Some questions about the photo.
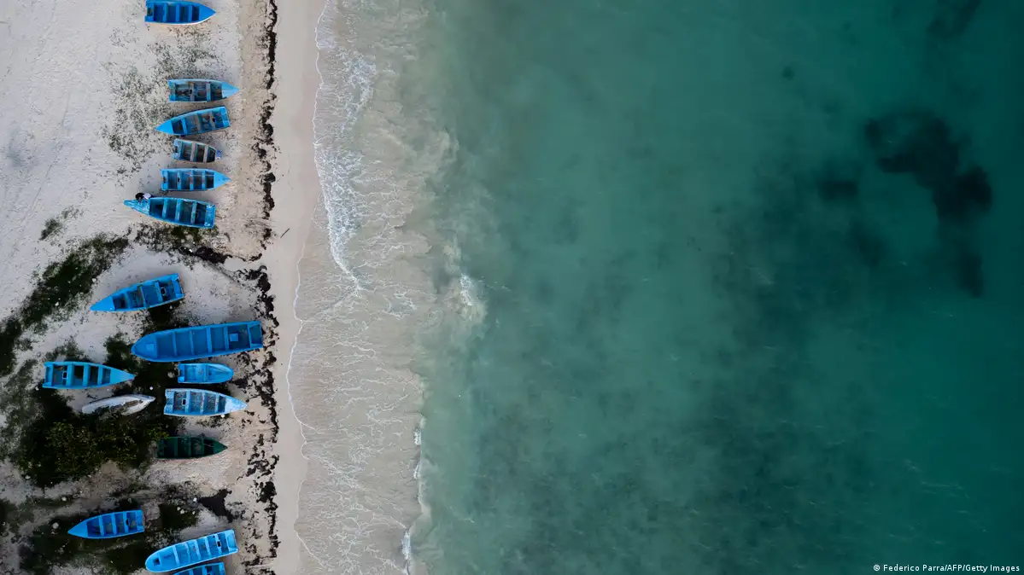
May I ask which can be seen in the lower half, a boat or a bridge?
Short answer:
boat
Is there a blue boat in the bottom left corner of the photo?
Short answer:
Yes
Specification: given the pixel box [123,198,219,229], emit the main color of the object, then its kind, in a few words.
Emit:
blue boat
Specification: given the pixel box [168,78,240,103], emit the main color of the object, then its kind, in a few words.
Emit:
blue boat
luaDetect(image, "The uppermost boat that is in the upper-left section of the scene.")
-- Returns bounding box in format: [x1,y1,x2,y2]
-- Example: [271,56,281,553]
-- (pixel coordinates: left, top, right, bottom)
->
[145,0,216,25]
